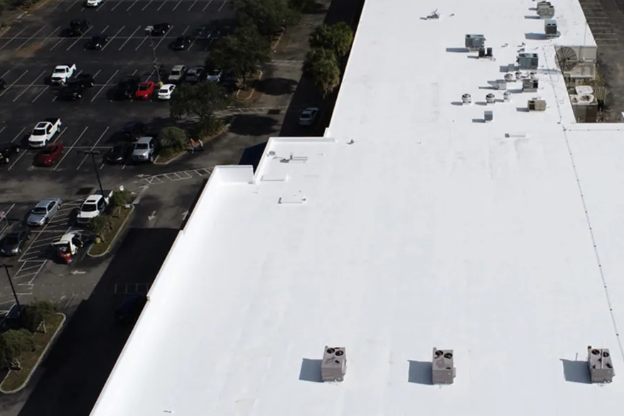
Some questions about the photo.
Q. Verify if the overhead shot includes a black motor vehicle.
Yes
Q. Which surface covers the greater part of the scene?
buildings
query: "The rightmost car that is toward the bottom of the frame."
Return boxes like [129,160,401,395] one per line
[112,294,148,325]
